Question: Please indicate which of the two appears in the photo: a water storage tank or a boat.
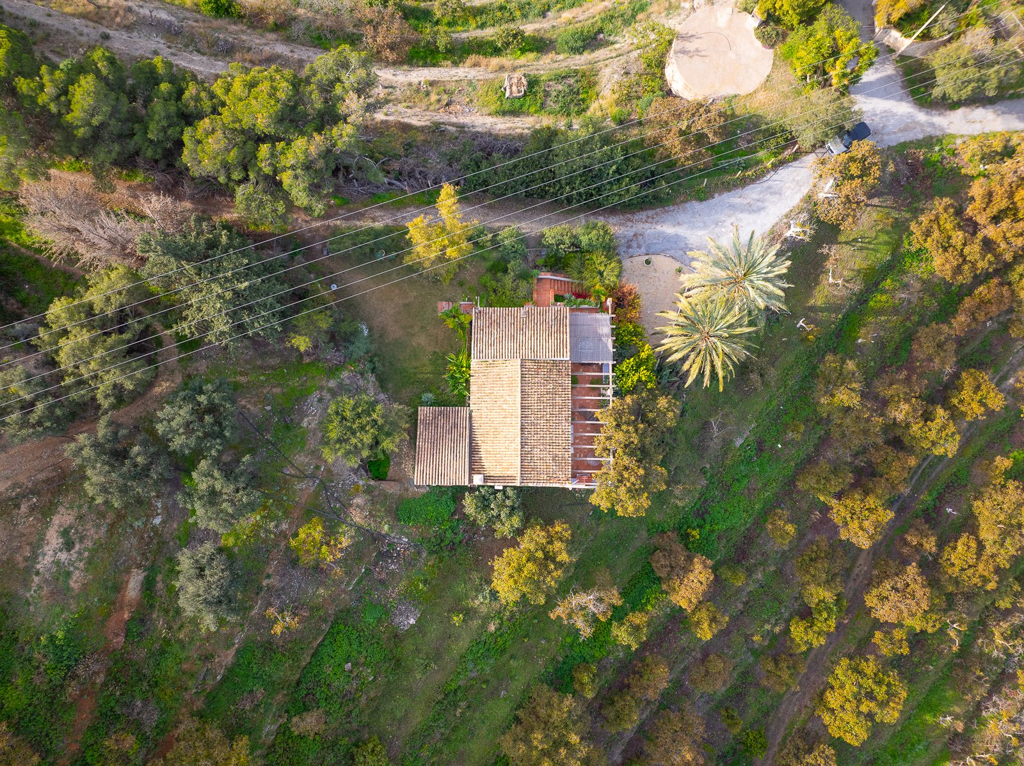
water storage tank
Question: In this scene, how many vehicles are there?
1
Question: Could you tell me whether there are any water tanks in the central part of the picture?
No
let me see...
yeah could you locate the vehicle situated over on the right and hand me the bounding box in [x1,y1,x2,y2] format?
[823,119,874,158]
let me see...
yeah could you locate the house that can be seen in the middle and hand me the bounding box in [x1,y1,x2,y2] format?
[414,305,574,488]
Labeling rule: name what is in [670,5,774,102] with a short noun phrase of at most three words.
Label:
water tank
